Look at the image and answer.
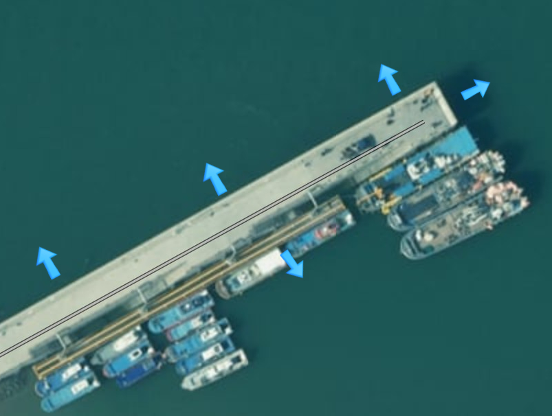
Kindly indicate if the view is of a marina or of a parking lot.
marina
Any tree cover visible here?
No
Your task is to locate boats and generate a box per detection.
[36,358,94,393]
[220,247,290,295]
[287,211,357,254]
[176,333,239,373]
[166,320,236,359]
[148,291,217,331]
[42,373,103,411]
[401,181,532,255]
[104,343,159,377]
[166,309,217,340]
[91,324,152,365]
[389,155,511,227]
[182,350,252,389]
[356,129,480,210]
